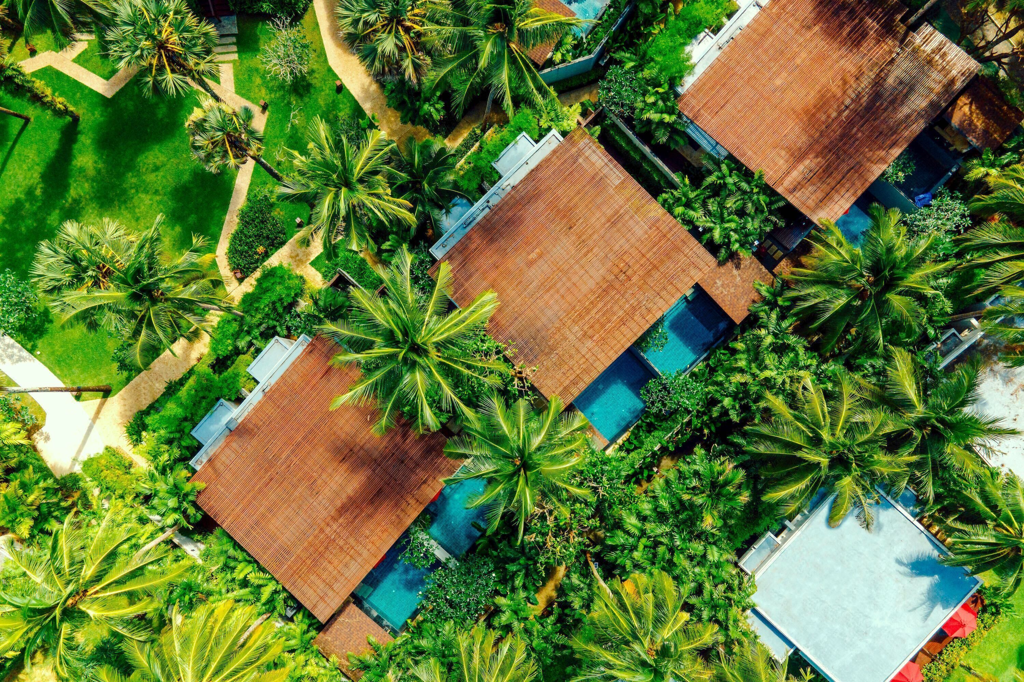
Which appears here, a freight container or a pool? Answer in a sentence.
It is a pool that can be seen here.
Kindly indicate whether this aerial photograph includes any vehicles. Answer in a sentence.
No, there isn't any vehicle down there.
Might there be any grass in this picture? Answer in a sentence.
Yes, there's grass in this view.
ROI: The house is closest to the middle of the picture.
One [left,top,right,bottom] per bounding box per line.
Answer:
[427,126,717,411]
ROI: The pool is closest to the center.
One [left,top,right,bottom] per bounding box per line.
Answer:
[568,350,660,446]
